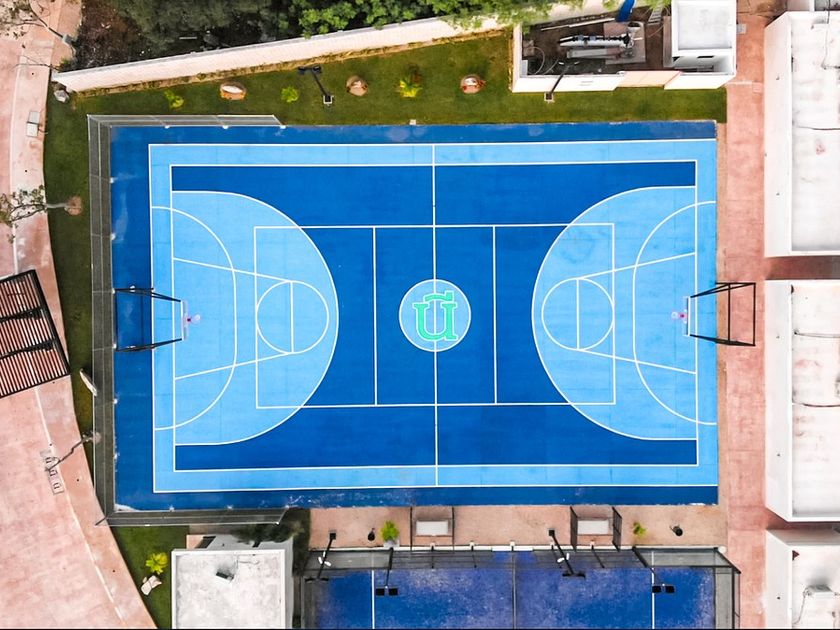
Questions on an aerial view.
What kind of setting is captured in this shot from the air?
sports ground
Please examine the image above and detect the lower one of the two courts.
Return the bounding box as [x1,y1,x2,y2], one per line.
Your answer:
[304,541,742,630]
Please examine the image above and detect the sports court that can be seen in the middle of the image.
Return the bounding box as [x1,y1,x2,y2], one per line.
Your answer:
[112,121,718,509]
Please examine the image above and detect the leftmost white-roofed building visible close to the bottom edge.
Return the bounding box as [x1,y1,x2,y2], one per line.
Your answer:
[172,535,293,630]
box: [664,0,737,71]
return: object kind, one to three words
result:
shed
